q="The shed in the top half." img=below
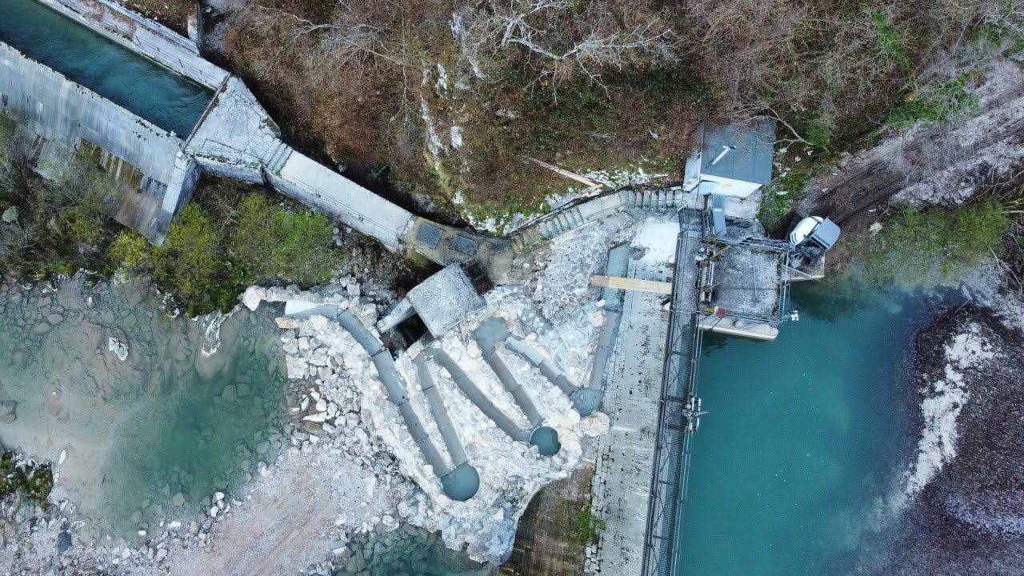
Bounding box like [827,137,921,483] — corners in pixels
[678,117,774,198]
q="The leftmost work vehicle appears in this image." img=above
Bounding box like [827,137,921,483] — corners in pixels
[771,205,840,263]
